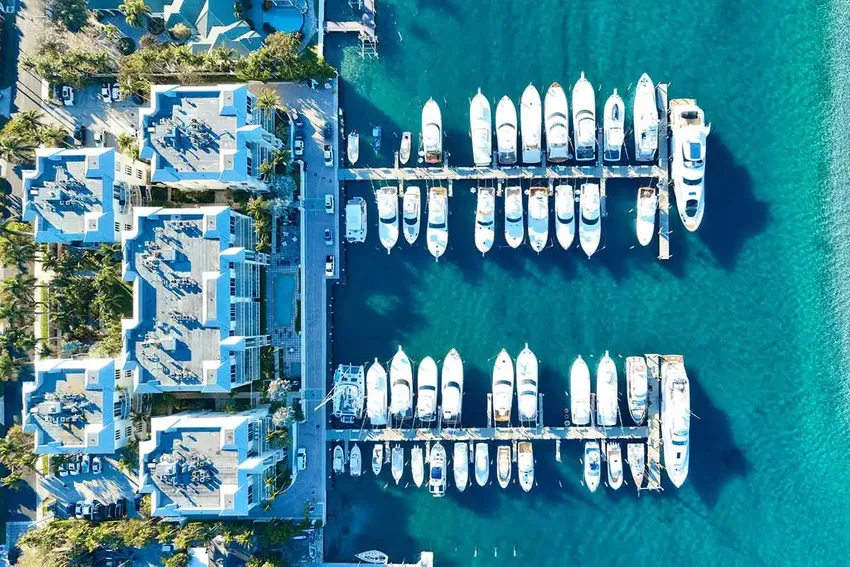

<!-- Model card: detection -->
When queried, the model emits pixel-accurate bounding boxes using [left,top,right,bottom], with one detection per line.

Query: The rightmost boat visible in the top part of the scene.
[665,101,720,231]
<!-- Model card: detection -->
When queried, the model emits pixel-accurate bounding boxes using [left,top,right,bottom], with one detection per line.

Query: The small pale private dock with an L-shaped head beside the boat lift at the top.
[325,0,375,39]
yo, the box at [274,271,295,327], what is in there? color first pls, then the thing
blue swimming pool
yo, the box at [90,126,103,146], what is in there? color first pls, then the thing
white vehicle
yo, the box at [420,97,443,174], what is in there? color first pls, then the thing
white boat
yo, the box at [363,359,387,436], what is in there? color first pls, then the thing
white boat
